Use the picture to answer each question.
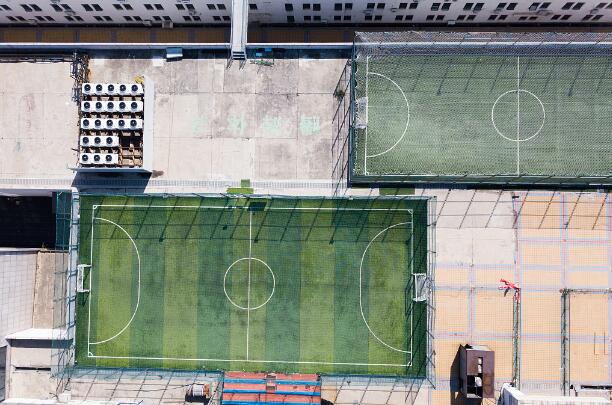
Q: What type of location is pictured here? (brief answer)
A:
sports ground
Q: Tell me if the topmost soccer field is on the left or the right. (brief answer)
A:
right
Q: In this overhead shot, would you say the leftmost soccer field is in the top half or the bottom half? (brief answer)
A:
bottom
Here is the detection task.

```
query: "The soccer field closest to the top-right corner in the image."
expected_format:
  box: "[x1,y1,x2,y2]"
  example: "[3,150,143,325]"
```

[353,54,612,181]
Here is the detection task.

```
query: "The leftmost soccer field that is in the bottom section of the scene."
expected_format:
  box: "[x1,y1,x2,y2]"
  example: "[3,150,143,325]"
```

[76,198,427,377]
